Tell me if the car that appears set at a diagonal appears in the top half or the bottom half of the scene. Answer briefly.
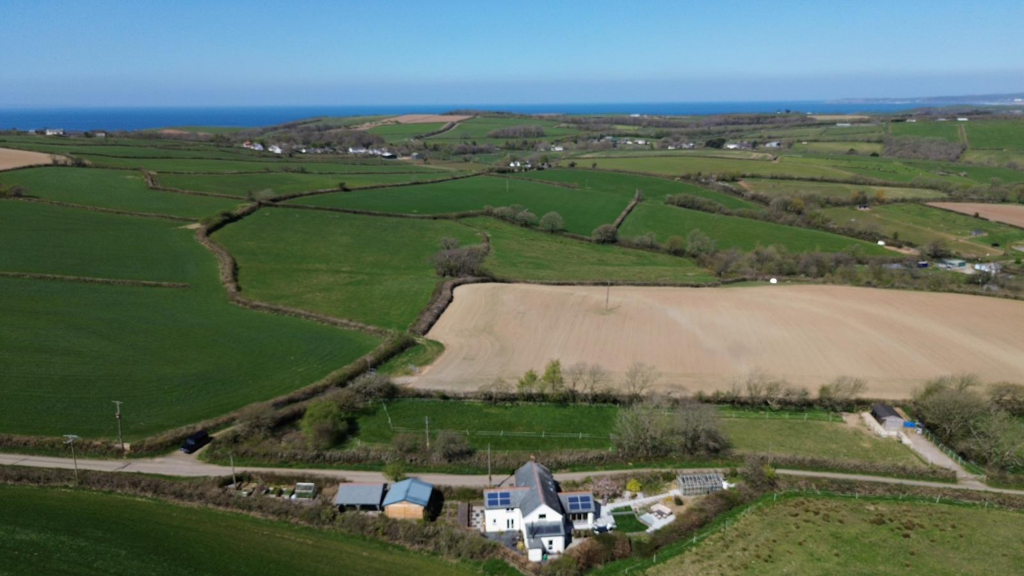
bottom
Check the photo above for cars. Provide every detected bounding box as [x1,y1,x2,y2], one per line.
[989,241,1001,246]
[180,431,210,452]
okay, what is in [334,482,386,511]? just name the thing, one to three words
shed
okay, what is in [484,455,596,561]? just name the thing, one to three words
house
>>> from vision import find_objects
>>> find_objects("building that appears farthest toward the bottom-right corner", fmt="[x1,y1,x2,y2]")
[865,402,906,429]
